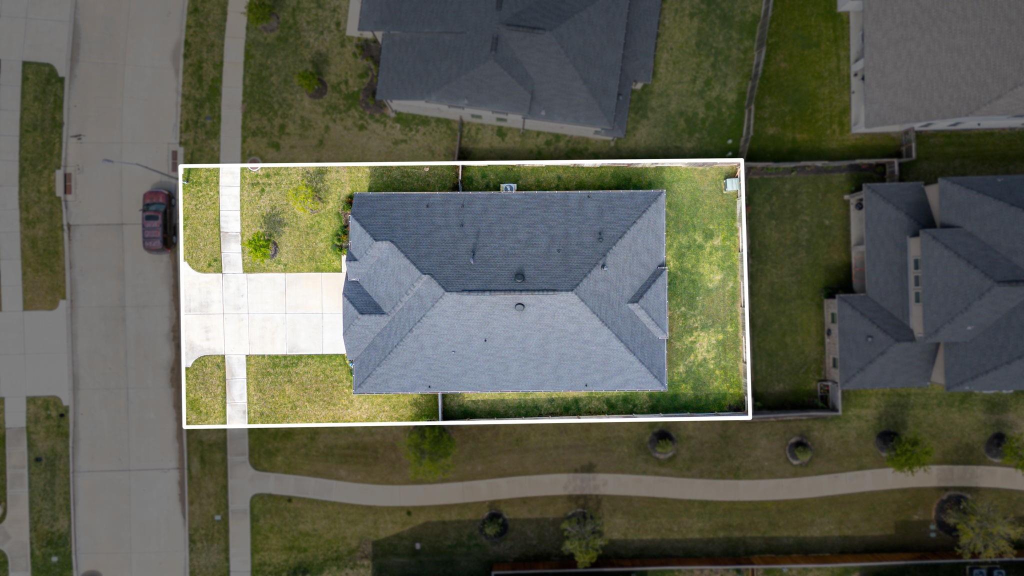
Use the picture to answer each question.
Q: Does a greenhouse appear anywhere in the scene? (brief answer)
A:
No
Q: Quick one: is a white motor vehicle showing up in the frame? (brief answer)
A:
No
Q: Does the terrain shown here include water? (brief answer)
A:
No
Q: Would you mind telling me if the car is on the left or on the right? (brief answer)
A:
left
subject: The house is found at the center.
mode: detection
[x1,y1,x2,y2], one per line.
[342,190,668,393]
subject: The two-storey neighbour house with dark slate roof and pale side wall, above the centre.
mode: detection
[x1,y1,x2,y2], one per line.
[358,0,662,153]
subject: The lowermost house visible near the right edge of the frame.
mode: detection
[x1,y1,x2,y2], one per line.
[823,176,1024,393]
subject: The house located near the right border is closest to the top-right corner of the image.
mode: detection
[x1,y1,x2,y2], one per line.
[834,0,1024,133]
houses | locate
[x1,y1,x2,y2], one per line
[358,0,662,153]
[342,190,668,393]
[834,0,1024,133]
[823,176,1024,393]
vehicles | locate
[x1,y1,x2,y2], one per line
[141,189,177,254]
